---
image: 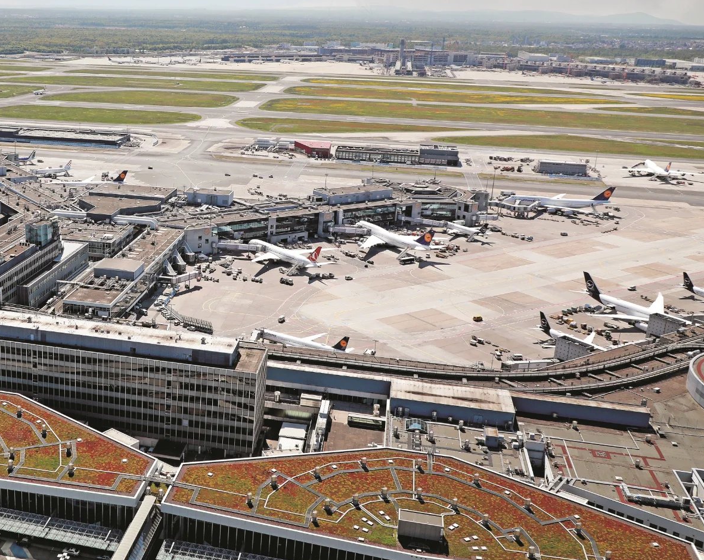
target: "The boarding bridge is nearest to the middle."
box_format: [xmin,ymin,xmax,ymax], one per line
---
[330,226,372,240]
